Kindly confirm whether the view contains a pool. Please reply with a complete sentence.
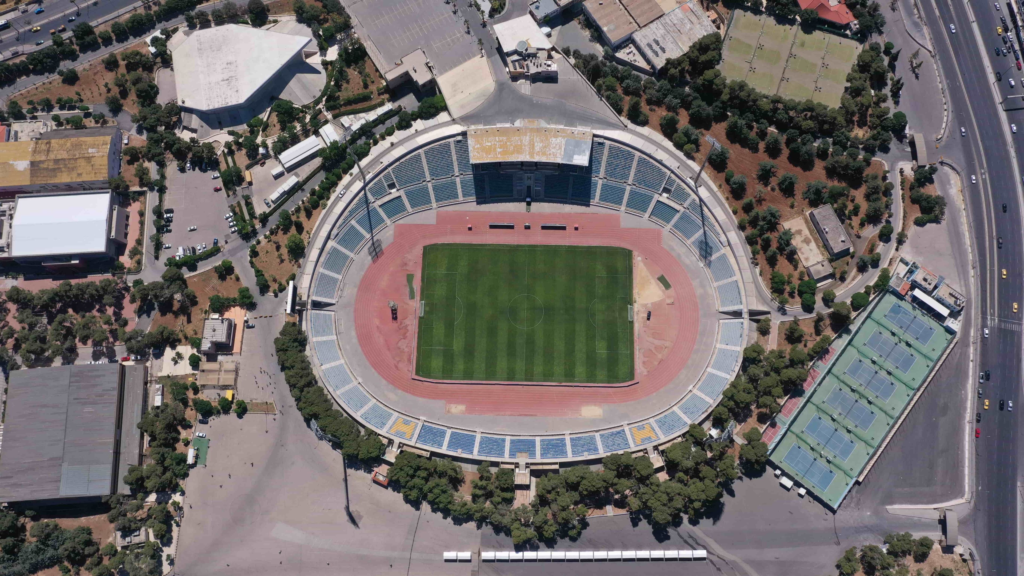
No, I can't see a single pool in this photo.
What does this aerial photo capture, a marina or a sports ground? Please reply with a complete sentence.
The area seen from above is a sports ground.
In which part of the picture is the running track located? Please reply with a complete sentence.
Look in the center portion of the view to spot the running track.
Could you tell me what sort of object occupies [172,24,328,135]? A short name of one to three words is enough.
building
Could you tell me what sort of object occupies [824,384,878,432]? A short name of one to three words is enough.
tennis court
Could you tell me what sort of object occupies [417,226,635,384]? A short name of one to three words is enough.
soccer field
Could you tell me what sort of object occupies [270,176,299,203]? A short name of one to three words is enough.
shed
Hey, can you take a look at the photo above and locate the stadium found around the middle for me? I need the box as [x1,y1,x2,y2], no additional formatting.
[285,114,771,492]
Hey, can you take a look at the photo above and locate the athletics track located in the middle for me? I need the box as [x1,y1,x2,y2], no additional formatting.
[354,211,699,418]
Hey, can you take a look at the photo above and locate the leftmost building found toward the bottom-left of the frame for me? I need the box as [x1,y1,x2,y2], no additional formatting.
[0,363,120,504]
